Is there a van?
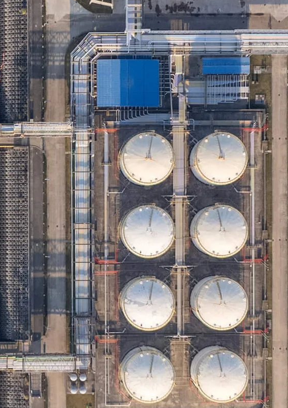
No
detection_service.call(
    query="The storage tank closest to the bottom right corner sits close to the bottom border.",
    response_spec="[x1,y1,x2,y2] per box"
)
[190,344,250,404]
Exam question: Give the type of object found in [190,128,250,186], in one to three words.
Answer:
storage tank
